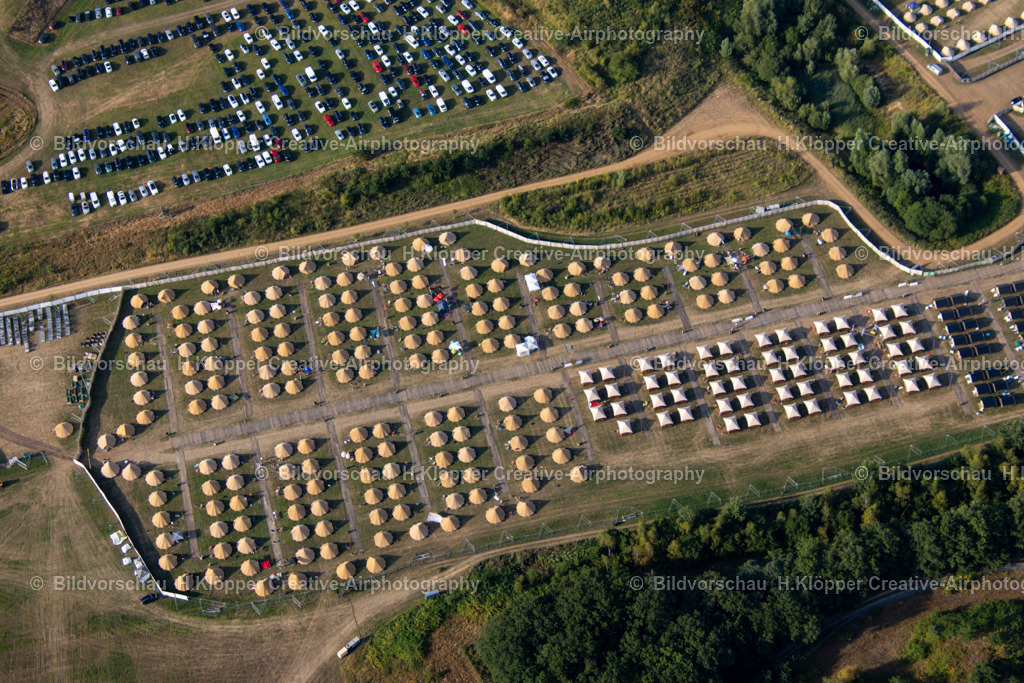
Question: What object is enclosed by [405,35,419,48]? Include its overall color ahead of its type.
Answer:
white vehicle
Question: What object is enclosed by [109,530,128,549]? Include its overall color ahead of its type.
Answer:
white gazebo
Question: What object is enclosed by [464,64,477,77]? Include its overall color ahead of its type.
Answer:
white vehicle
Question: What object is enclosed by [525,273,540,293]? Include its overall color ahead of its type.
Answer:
white gazebo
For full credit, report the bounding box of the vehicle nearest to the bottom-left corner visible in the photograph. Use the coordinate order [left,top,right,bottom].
[139,591,159,604]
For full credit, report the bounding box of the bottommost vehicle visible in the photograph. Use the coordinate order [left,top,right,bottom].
[336,635,362,658]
